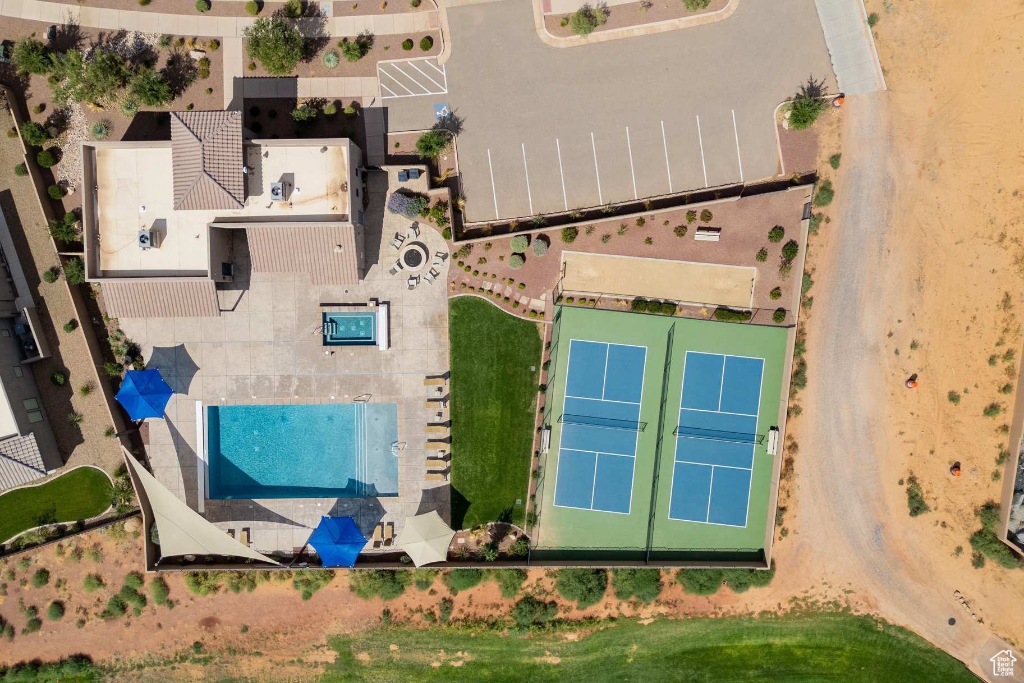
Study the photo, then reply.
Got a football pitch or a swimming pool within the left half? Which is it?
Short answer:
swimming pool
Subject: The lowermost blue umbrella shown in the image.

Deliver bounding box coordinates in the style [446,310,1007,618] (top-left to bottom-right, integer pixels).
[308,515,369,568]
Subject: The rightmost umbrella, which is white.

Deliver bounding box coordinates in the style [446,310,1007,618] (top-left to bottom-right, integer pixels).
[396,509,457,569]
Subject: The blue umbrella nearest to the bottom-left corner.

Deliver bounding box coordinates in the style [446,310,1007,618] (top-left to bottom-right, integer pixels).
[115,367,174,422]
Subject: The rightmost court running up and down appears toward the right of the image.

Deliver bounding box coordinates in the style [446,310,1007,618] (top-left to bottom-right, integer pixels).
[649,317,787,562]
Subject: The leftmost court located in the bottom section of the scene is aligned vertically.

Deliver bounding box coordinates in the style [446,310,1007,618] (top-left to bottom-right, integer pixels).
[529,305,675,562]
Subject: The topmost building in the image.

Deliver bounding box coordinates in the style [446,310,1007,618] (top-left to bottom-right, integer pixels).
[81,109,367,318]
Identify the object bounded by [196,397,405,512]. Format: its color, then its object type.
blue swimming pool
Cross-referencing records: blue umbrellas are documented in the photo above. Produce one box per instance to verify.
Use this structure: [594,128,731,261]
[308,515,369,568]
[115,367,174,422]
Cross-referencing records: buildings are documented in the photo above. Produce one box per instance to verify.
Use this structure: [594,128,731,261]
[0,244,63,490]
[81,109,367,318]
